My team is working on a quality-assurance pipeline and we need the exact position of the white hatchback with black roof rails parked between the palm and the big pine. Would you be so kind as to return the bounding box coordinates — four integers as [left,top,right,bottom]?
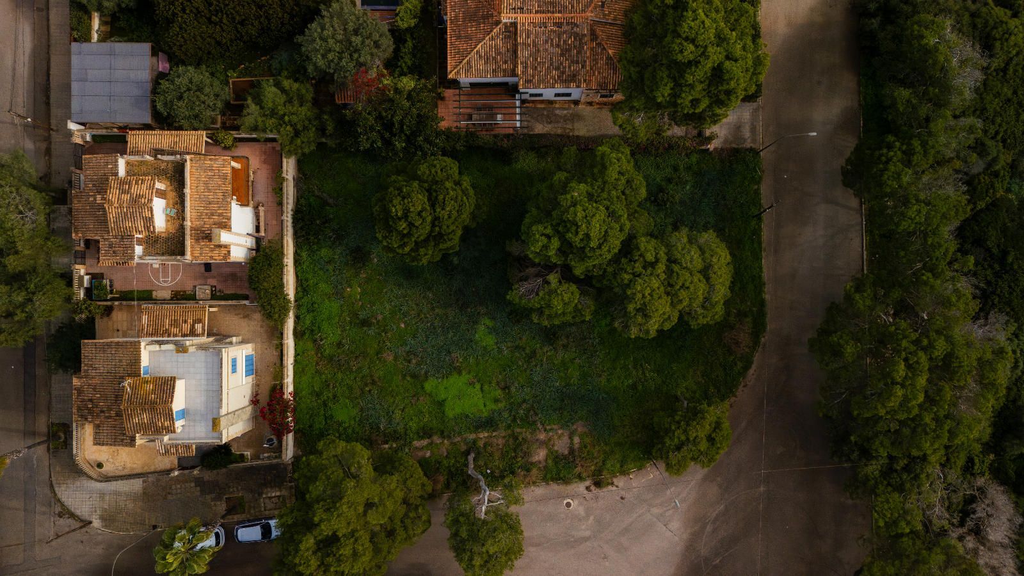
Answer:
[230,520,280,546]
